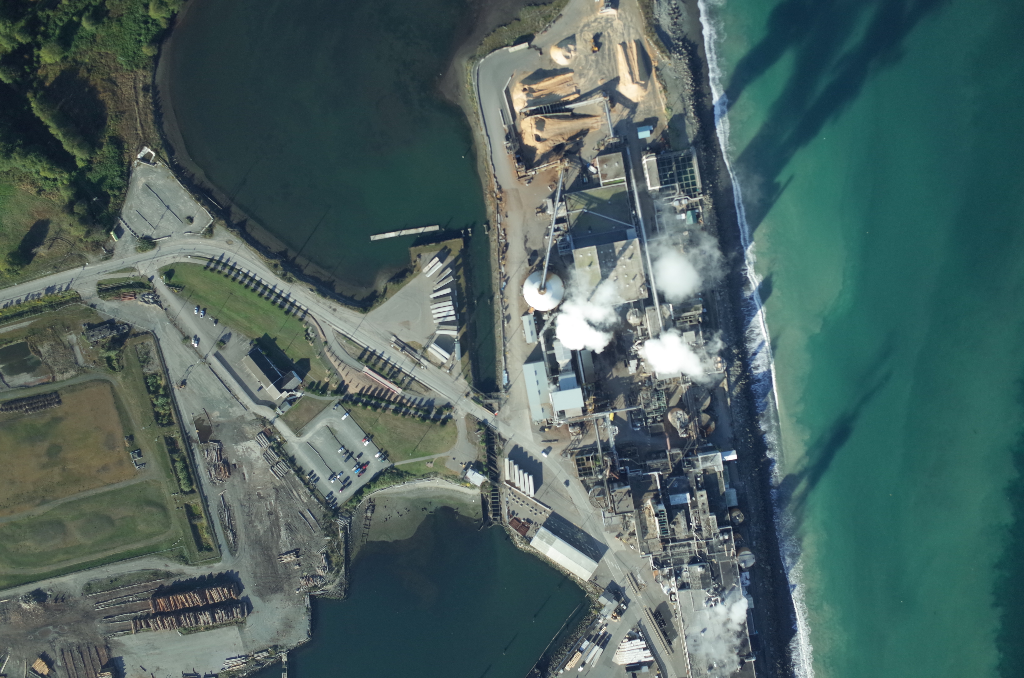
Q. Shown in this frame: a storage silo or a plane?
storage silo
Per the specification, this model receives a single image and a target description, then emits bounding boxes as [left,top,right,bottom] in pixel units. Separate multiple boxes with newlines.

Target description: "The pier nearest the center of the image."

[369,225,444,243]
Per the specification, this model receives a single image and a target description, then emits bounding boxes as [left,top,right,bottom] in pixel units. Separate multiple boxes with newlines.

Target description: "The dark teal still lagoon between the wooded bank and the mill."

[172,0,503,390]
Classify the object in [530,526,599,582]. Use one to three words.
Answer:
building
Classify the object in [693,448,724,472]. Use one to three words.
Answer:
building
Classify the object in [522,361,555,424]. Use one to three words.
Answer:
shed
